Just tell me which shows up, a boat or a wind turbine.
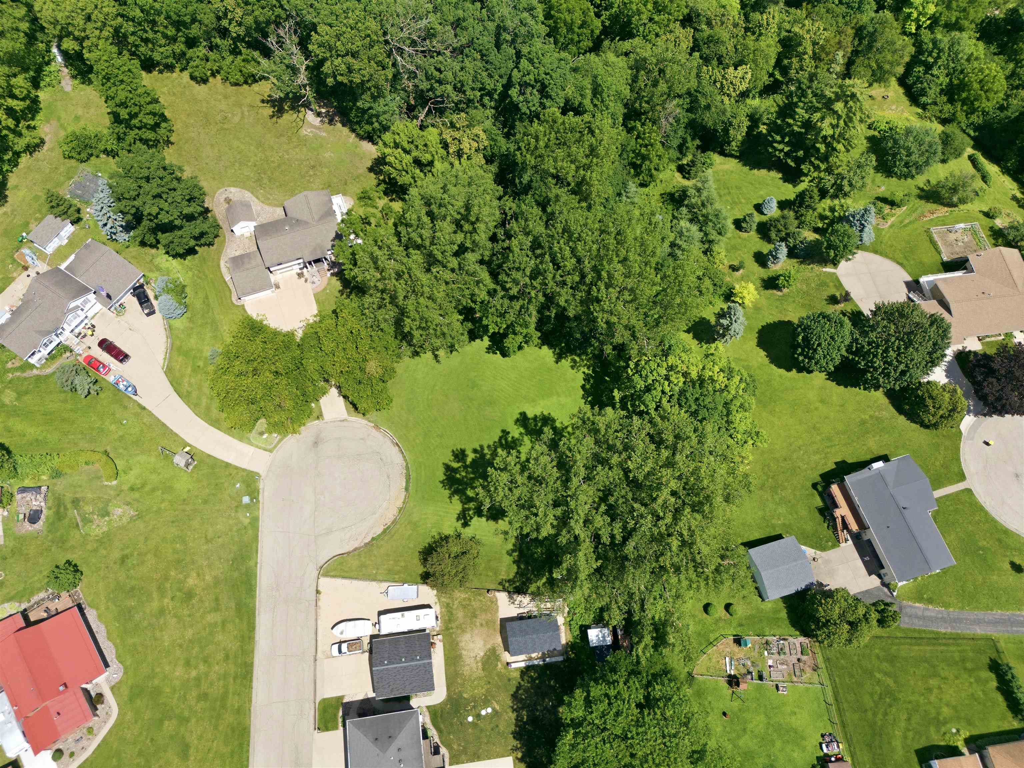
boat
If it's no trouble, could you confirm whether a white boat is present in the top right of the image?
No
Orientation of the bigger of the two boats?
horizontally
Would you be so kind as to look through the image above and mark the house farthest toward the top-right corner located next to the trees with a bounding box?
[908,248,1024,350]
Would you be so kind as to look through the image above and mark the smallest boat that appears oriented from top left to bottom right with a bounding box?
[111,376,136,395]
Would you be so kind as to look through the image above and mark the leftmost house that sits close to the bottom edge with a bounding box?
[0,591,113,755]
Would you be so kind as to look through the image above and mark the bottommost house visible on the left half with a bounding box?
[346,708,443,768]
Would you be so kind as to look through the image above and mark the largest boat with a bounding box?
[331,617,373,637]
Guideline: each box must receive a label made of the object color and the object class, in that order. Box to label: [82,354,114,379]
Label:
red car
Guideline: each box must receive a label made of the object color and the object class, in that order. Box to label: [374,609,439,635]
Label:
white vehicle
